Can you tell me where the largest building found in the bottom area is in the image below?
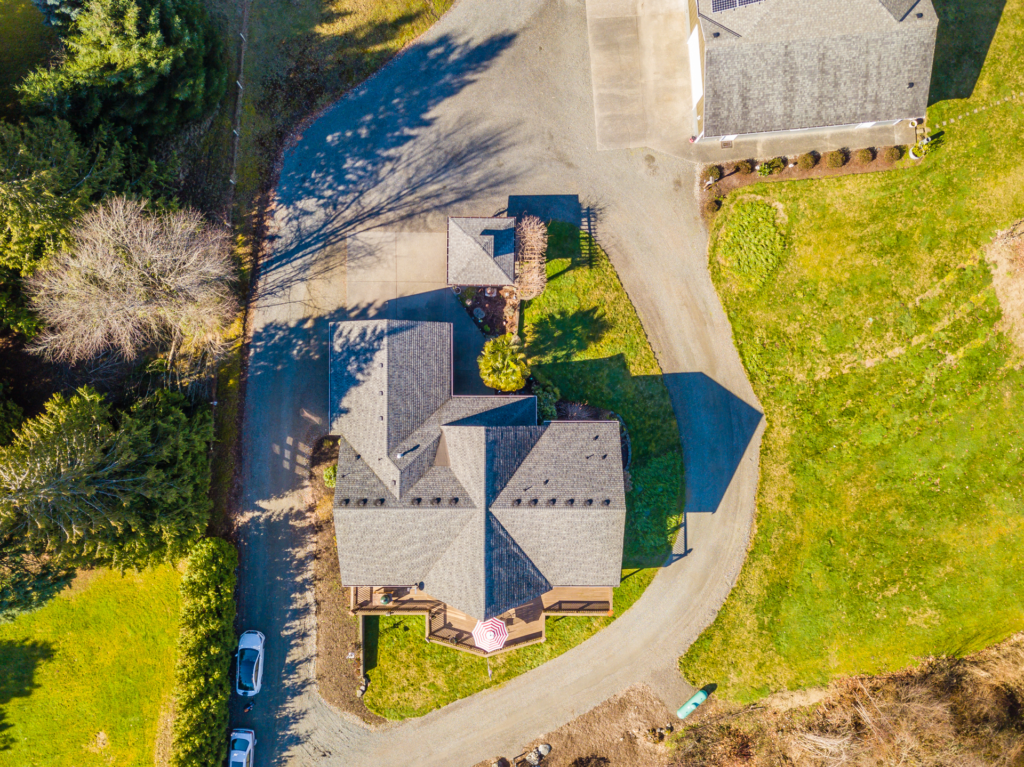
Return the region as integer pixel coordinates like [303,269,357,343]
[327,319,626,621]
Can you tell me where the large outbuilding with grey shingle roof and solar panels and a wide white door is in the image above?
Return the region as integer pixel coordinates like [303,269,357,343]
[682,0,942,144]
